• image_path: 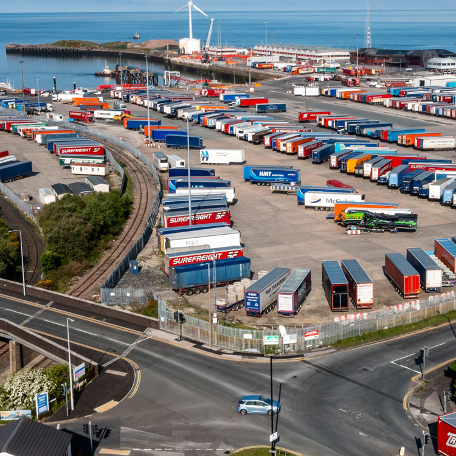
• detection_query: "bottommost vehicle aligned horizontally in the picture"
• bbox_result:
[238,396,278,414]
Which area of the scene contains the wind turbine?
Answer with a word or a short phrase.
top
